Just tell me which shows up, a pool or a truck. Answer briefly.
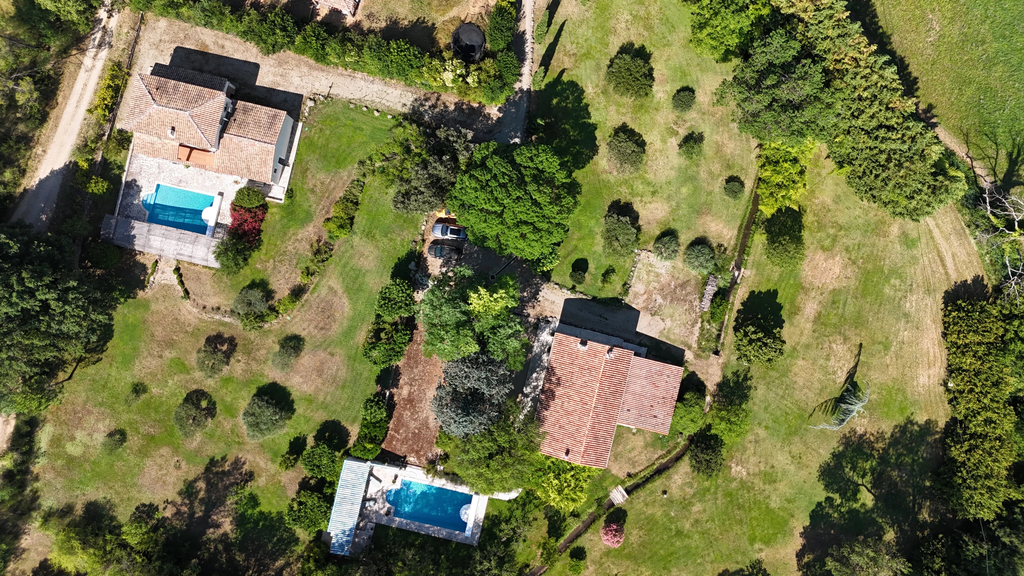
pool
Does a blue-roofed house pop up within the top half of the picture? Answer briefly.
No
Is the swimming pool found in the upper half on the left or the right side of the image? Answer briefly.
left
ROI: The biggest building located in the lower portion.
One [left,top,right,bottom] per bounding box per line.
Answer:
[534,332,684,469]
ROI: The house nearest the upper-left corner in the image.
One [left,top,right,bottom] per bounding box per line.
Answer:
[125,62,292,184]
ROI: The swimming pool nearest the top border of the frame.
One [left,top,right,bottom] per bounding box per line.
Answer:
[138,181,222,237]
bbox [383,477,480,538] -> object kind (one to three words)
swimming pool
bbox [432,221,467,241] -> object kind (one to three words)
car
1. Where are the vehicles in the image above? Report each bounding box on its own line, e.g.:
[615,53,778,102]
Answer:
[432,221,467,241]
[427,243,464,262]
[440,205,461,220]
